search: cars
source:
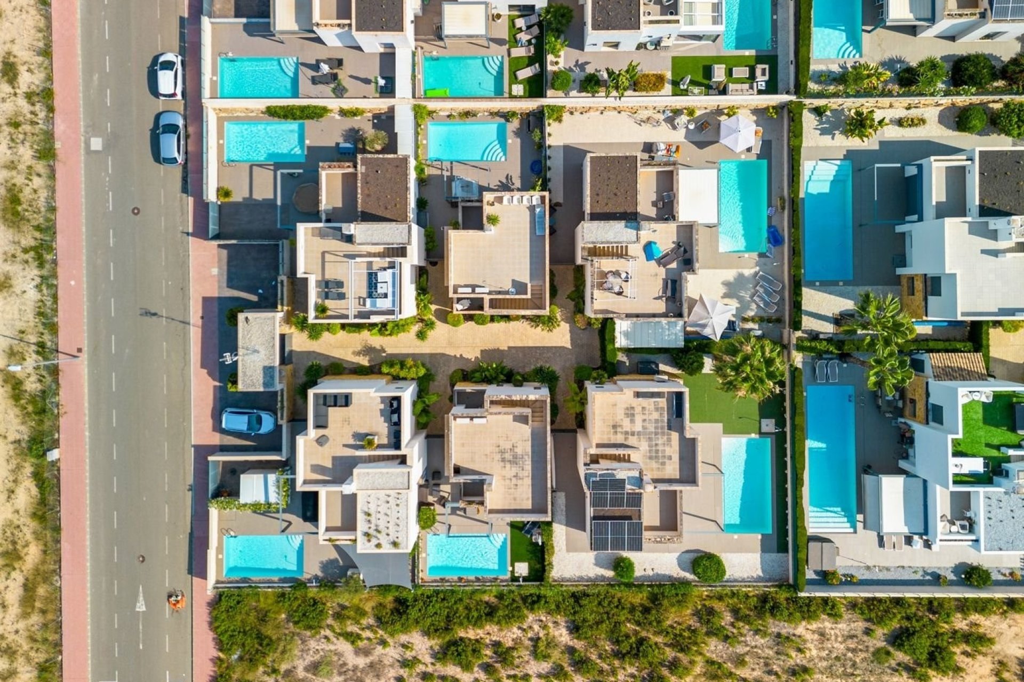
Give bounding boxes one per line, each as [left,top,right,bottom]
[157,53,185,100]
[158,112,186,164]
[221,408,276,435]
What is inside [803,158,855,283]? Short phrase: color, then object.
blue swimming pool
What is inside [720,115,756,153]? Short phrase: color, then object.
white umbrella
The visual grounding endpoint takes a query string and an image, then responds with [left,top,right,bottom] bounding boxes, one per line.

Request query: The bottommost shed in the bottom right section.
[803,535,836,569]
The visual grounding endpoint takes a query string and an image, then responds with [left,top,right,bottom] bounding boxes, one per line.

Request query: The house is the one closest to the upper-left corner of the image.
[312,0,414,51]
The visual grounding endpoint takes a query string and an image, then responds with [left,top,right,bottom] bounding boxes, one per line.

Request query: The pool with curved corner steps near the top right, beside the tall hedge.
[811,0,864,60]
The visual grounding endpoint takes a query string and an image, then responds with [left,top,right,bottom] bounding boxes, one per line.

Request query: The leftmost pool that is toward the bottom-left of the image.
[222,530,305,580]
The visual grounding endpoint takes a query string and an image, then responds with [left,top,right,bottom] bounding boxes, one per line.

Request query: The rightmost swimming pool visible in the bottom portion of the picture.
[806,384,866,535]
